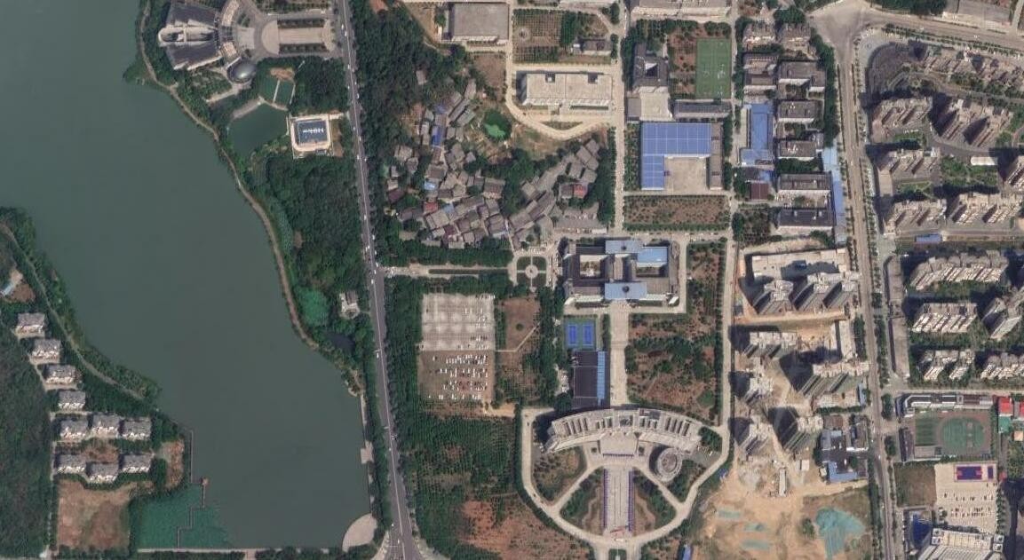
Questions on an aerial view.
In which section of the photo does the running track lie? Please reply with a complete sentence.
The running track sits in the bottom right section of the image.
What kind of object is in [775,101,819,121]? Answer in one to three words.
building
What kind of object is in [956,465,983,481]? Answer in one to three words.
basketball court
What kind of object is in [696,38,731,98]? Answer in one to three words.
sports field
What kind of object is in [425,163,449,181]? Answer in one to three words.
house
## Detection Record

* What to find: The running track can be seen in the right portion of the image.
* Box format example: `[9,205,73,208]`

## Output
[913,410,992,462]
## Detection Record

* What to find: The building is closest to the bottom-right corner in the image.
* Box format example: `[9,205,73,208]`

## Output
[922,526,1004,560]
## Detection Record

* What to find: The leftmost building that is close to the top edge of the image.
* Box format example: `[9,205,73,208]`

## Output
[156,0,239,72]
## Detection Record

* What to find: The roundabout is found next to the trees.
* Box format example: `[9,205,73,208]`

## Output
[517,257,547,287]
